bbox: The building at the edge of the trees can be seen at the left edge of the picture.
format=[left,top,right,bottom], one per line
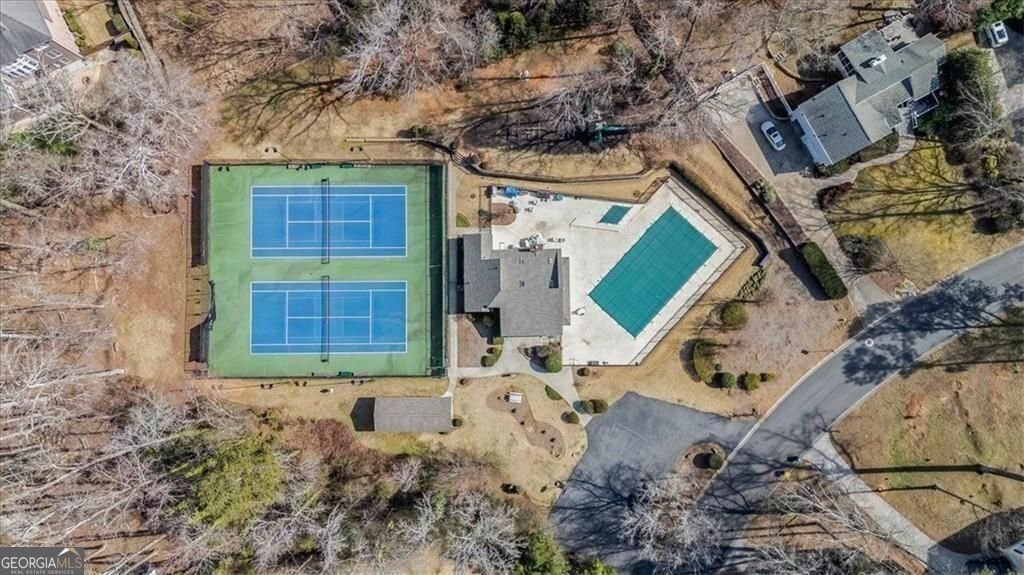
[0,0,84,109]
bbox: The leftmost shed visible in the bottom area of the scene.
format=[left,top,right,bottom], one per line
[373,396,453,432]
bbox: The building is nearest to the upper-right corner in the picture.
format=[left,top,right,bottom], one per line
[787,29,945,168]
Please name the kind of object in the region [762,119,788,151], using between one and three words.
car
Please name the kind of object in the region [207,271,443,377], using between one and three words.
tennis court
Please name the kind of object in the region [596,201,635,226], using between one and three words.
swimming pool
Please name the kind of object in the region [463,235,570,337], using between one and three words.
building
